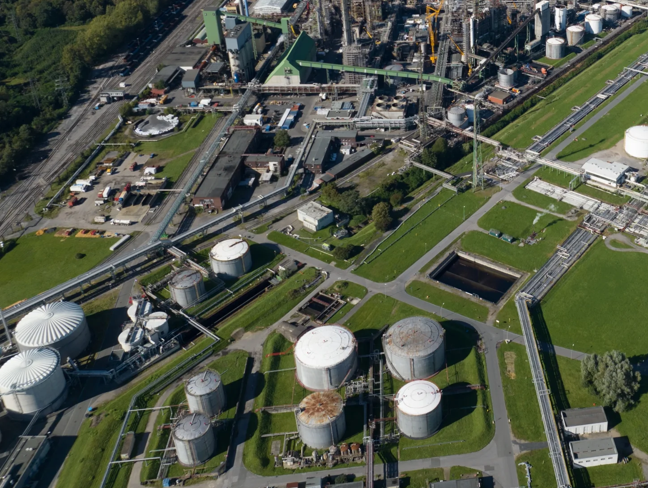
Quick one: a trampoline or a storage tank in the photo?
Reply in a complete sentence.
It is a storage tank that can be seen here.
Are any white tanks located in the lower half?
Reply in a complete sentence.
Yes, a white tank is visible in the lower half.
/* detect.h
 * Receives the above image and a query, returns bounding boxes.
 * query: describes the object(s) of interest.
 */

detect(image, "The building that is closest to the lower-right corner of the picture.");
[569,437,618,469]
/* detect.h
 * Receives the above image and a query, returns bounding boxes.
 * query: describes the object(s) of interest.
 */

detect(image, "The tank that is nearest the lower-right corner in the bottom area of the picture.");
[394,378,442,441]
